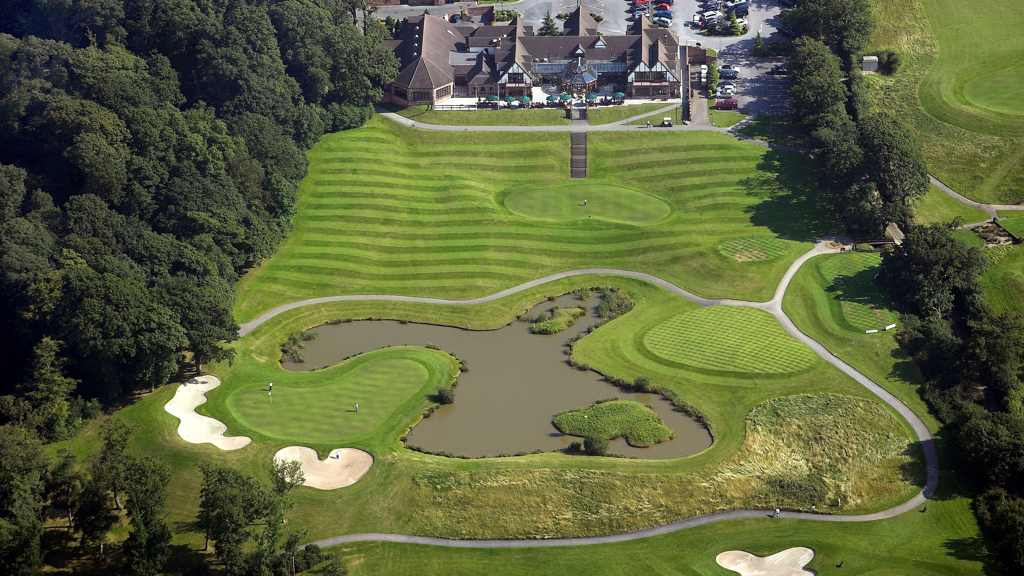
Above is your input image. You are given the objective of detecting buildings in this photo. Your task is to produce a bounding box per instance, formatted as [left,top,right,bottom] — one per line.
[370,0,477,6]
[382,5,684,103]
[862,55,877,69]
